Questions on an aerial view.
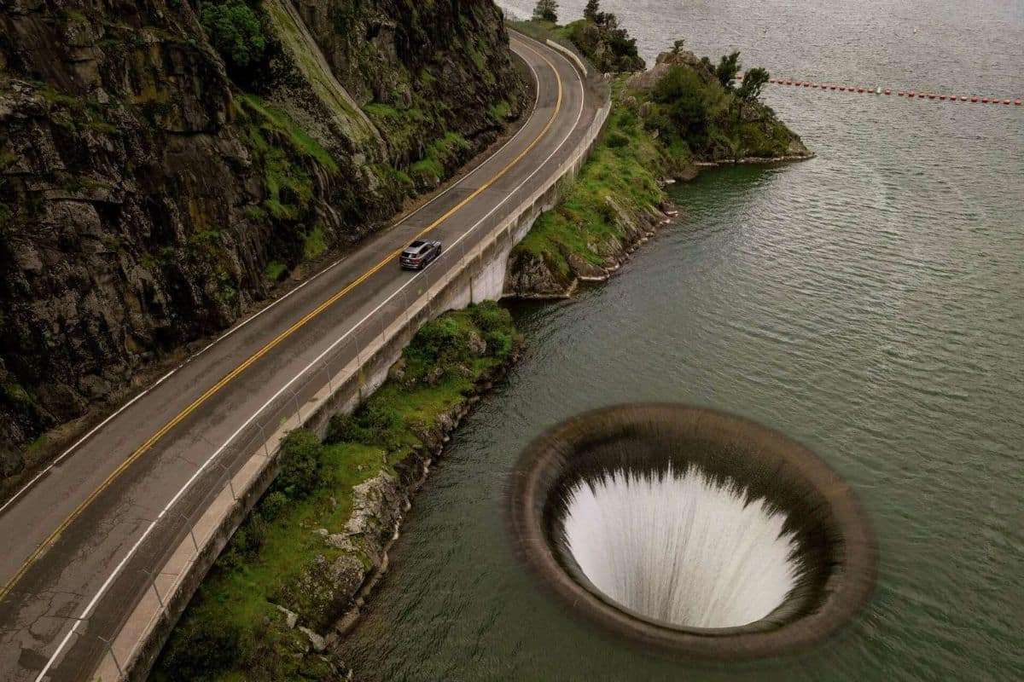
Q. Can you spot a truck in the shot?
No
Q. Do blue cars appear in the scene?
No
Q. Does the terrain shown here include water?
Yes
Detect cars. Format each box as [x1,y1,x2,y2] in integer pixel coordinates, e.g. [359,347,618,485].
[398,242,443,272]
